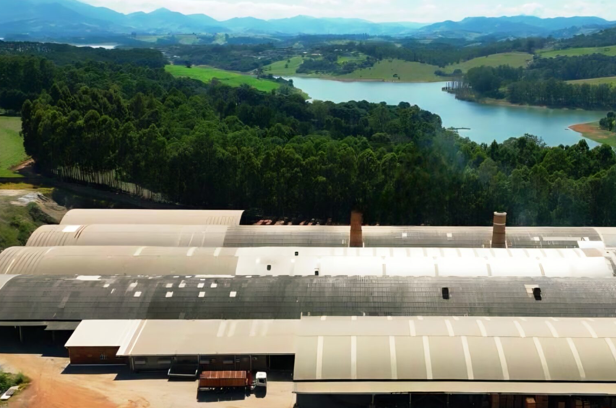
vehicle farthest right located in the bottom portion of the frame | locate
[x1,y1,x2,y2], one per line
[197,371,268,396]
